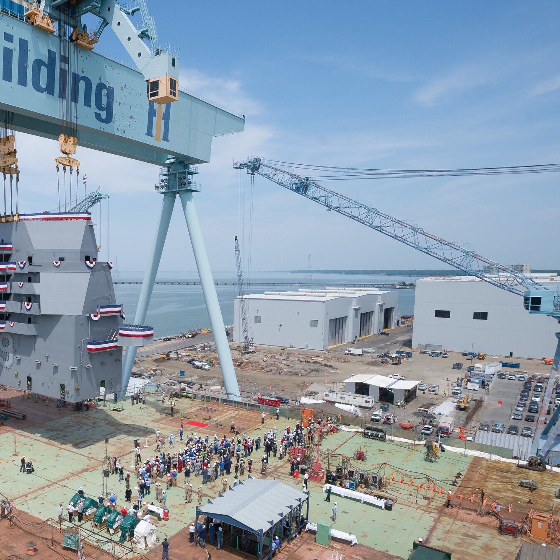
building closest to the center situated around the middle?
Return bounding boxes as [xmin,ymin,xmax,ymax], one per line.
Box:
[232,286,397,350]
